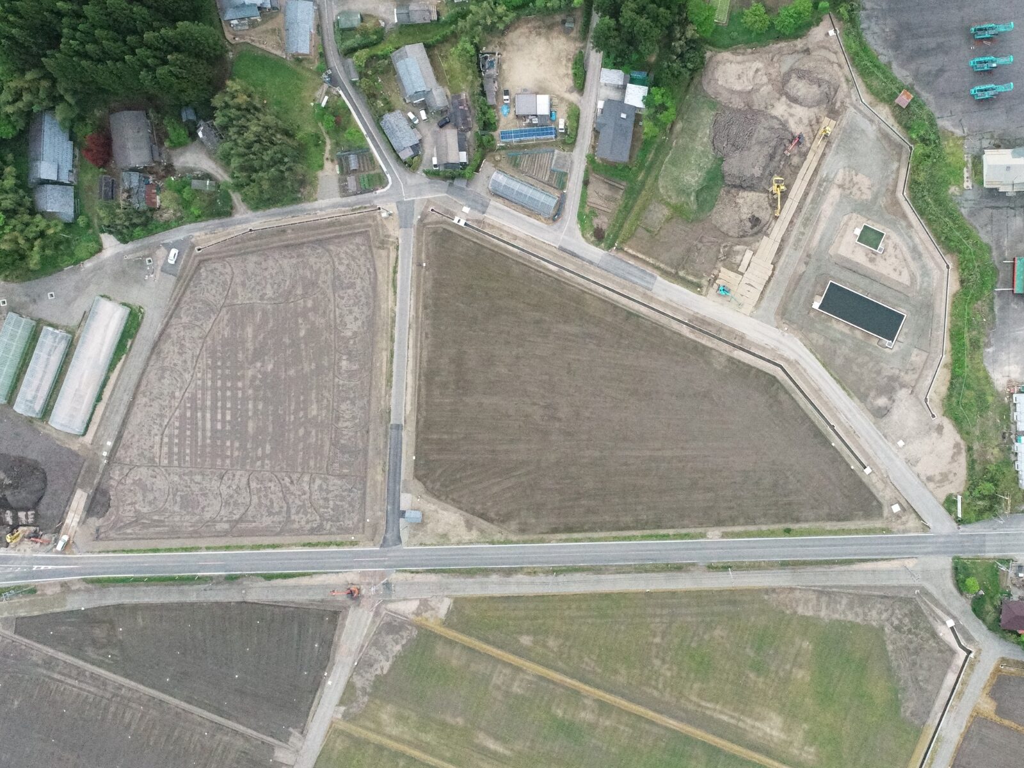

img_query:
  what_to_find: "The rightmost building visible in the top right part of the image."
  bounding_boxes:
[973,149,1024,197]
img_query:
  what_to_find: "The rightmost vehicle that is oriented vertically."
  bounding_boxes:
[770,176,789,216]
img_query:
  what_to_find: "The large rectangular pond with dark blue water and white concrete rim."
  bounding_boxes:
[818,279,907,347]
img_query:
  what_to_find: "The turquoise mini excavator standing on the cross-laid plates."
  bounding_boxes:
[718,285,739,303]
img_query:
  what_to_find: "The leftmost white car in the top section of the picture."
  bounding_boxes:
[166,247,178,264]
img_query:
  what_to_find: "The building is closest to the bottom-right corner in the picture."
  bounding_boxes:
[991,597,1024,634]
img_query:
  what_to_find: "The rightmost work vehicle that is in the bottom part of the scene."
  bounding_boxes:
[331,587,360,599]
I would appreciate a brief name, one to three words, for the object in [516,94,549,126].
building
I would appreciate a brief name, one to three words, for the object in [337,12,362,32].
shed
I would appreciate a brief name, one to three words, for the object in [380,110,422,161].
house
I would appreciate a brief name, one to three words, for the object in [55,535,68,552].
vehicle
